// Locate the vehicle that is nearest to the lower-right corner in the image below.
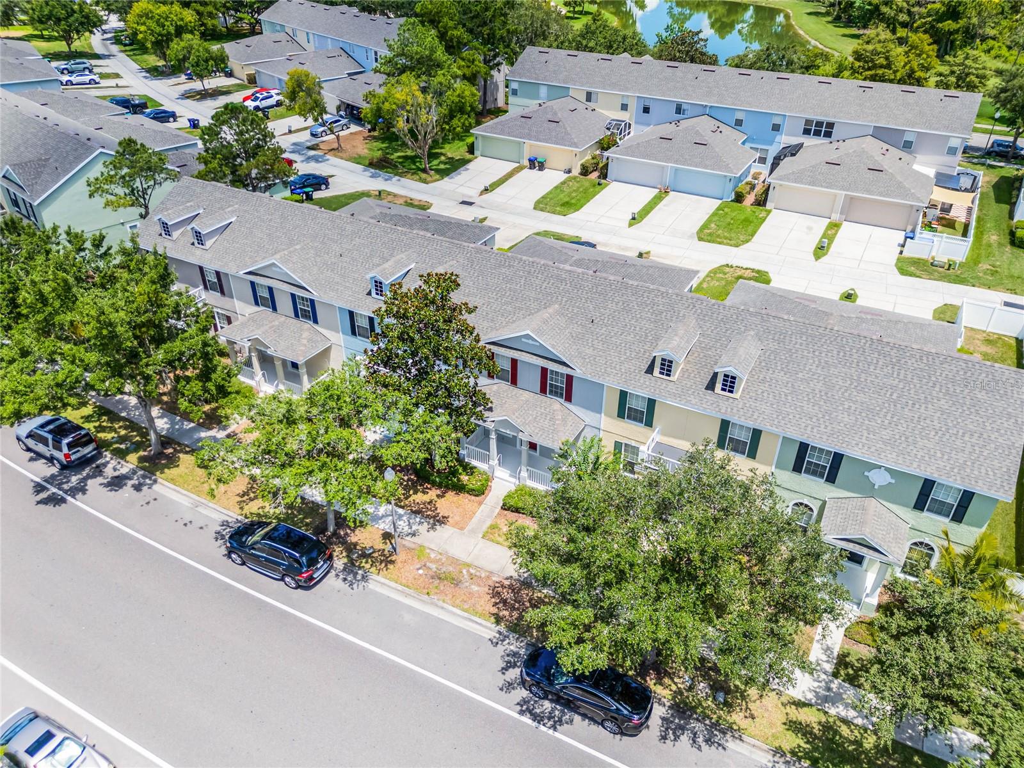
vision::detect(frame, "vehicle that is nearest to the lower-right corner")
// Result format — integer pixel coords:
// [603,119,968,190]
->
[517,642,656,737]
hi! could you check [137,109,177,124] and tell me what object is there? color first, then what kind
blue car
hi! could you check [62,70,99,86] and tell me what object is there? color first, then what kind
white car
